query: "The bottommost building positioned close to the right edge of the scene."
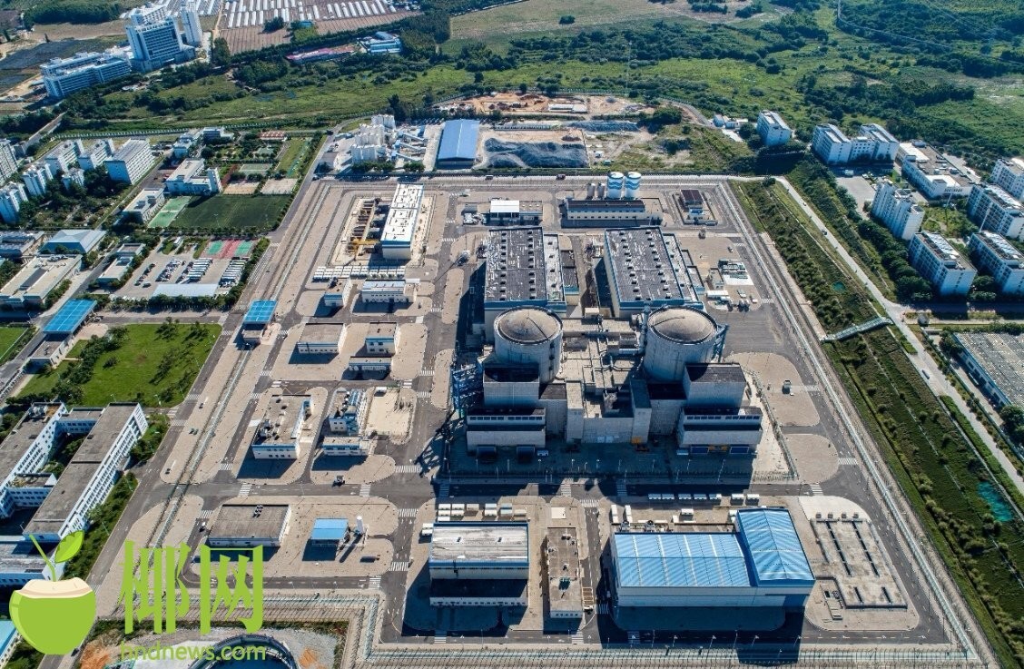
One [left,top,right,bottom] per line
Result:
[950,333,1024,432]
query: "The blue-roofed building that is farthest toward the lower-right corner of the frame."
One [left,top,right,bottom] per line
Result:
[731,509,815,606]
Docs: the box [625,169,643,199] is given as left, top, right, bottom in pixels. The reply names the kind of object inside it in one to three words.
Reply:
water tank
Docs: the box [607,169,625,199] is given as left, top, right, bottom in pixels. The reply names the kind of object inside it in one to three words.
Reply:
water tank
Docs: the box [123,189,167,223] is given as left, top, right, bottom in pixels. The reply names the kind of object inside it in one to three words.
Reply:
building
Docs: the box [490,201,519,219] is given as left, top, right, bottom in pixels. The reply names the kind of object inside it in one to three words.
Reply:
shed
